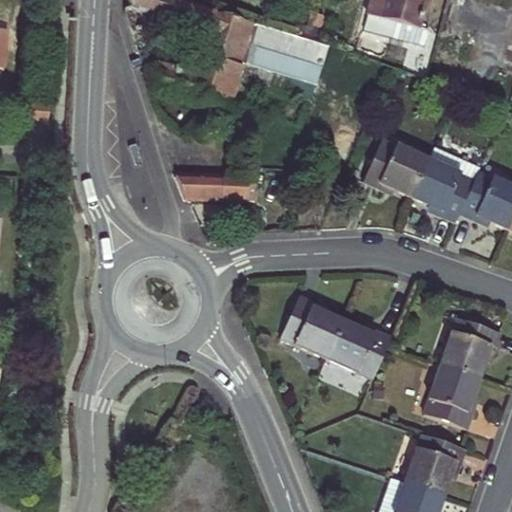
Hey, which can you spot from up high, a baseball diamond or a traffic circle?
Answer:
traffic circle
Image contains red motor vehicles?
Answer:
No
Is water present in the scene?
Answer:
No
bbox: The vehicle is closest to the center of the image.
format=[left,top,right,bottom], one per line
[266,177,278,196]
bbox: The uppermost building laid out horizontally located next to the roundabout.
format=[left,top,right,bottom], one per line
[176,176,255,208]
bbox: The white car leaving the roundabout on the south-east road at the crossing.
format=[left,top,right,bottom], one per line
[215,370,234,392]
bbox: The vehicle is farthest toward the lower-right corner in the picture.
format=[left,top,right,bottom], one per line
[483,464,496,485]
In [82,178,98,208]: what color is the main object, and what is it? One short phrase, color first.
white vehicle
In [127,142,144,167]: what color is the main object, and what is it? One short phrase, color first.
gray vehicle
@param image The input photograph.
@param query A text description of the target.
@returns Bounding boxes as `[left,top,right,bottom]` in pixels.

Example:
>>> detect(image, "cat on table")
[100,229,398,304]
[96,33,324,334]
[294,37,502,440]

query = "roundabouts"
[91,238,220,366]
